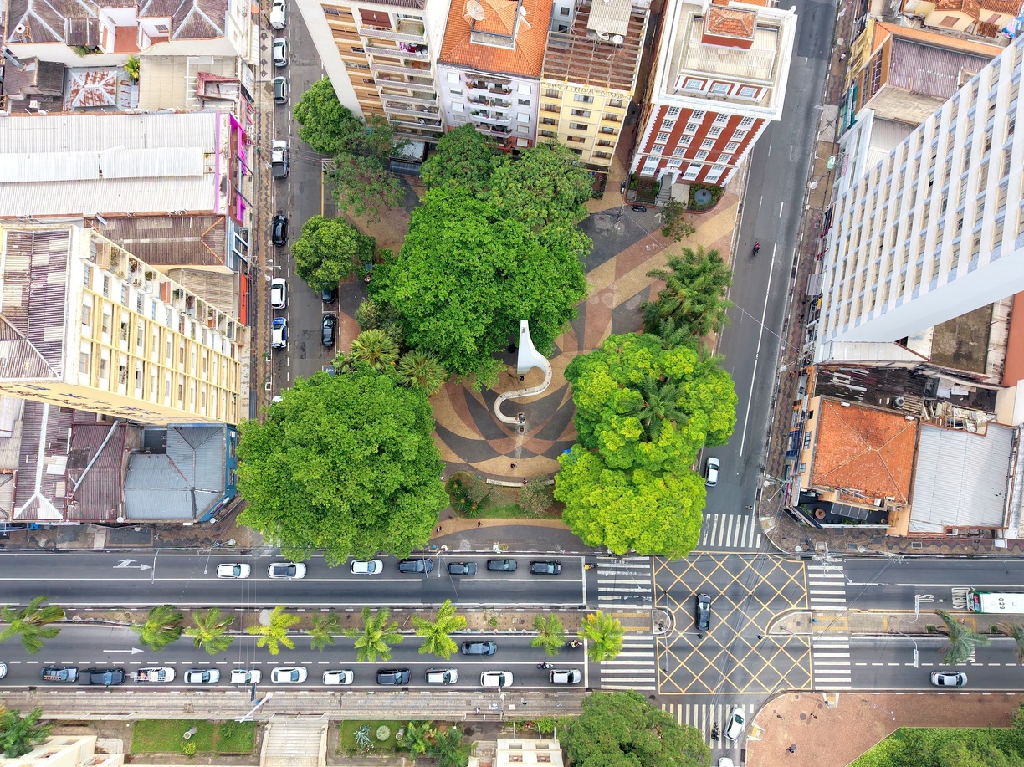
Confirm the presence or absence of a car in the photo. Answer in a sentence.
Yes, there's a car down there.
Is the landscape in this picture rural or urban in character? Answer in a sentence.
The land in this view is best described as urban.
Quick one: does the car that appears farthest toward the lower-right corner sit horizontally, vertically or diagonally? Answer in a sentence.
What the image shows is the car that appears farthest toward the lower-right corner lying horizontally.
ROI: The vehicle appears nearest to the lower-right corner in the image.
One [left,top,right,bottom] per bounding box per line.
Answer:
[928,670,968,690]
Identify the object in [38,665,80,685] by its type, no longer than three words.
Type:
vehicle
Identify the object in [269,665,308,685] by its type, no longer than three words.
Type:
car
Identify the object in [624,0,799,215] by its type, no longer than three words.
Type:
building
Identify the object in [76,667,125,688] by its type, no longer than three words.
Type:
truck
